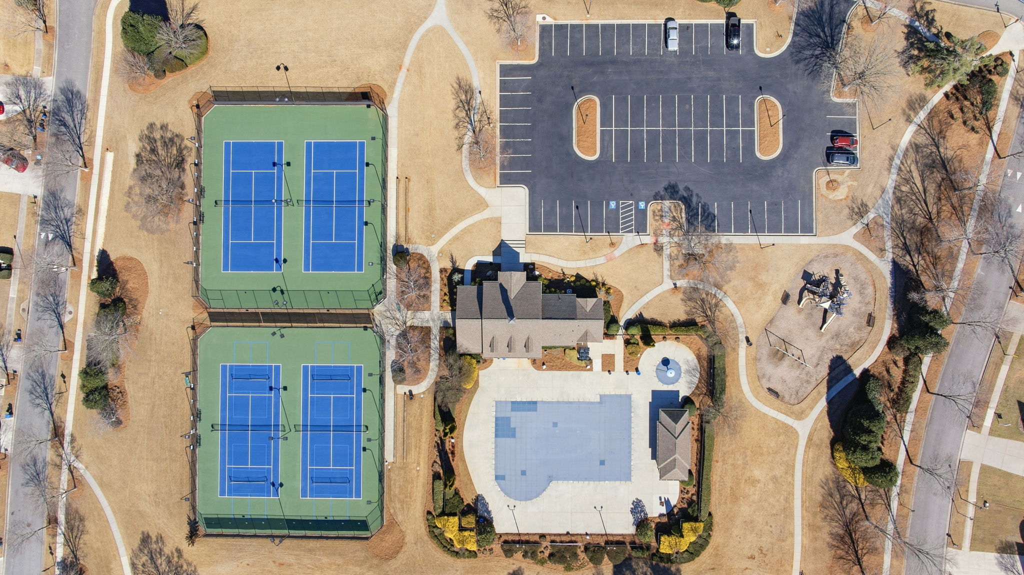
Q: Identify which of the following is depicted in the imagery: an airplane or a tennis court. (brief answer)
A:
tennis court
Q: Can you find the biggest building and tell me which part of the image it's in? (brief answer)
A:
center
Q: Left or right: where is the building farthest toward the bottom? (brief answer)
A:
right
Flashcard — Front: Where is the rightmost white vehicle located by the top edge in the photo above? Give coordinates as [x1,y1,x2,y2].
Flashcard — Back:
[665,21,679,52]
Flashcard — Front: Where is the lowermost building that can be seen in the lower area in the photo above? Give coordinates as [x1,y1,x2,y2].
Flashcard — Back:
[655,409,691,482]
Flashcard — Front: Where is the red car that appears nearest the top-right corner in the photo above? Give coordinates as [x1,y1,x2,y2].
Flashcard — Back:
[830,136,858,148]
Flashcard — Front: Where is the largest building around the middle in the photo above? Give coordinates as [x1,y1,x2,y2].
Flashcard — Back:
[456,271,604,358]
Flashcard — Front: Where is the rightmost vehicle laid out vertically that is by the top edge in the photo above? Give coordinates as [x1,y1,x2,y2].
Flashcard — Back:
[728,17,742,52]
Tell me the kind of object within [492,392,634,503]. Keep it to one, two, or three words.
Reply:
swimming pool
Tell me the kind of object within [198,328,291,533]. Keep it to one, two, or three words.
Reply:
tennis court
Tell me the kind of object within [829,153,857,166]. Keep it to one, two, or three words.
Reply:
vehicle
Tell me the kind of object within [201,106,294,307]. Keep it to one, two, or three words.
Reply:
tennis court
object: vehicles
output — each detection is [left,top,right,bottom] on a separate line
[0,152,27,172]
[728,17,742,52]
[829,153,857,166]
[665,21,679,52]
[830,136,858,148]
